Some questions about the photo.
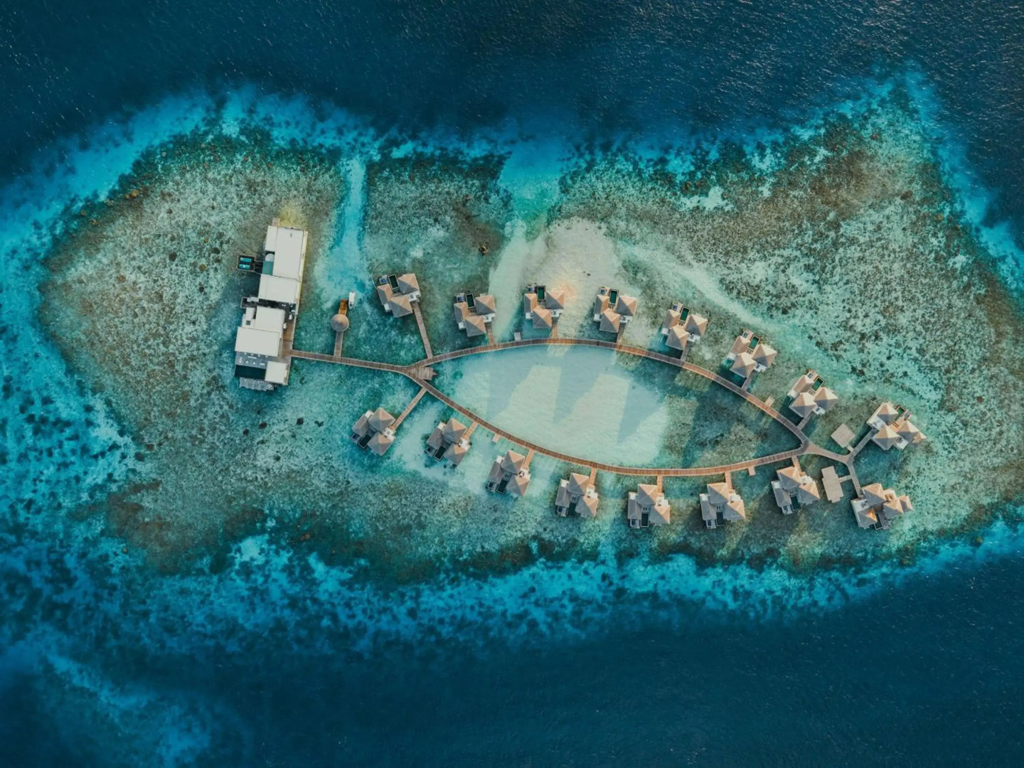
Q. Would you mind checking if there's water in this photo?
Yes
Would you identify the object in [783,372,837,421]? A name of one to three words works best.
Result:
house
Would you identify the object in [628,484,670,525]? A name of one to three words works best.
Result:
house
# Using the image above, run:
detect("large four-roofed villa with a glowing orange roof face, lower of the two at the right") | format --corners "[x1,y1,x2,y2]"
[850,483,913,529]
